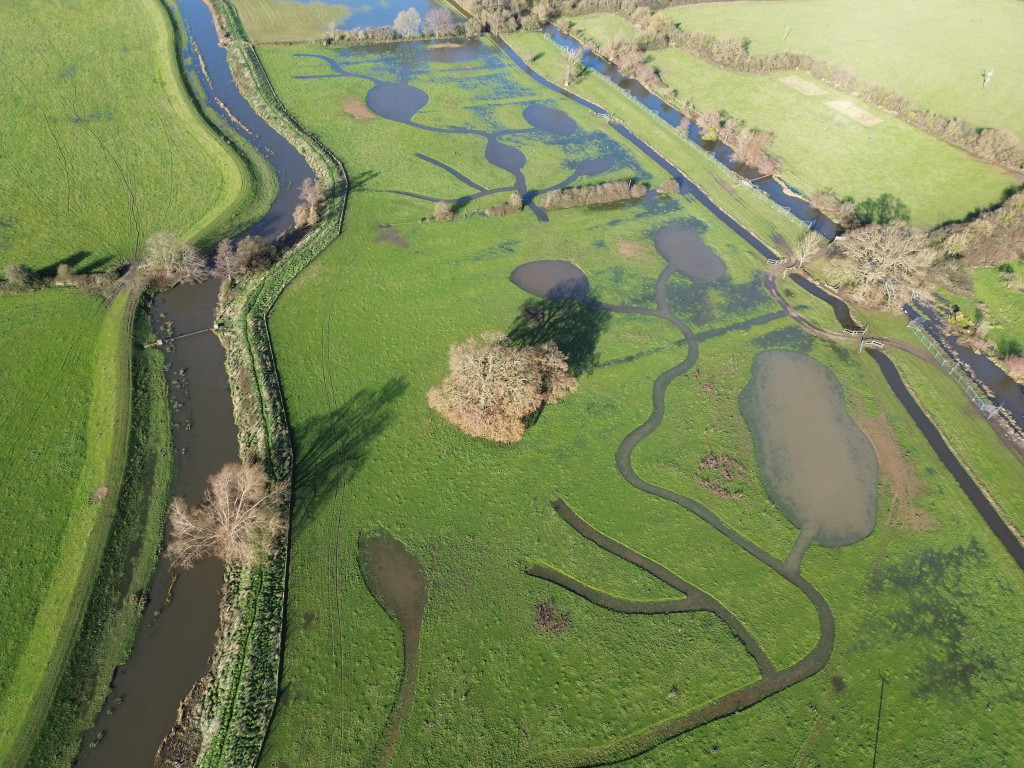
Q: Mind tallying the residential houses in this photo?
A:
0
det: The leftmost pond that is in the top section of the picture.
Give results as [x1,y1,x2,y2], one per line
[365,82,429,122]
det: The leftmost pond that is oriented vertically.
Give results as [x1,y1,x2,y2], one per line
[357,526,430,768]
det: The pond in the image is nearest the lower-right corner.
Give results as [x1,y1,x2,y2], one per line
[739,351,879,546]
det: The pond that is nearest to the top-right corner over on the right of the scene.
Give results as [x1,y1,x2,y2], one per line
[656,230,726,283]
